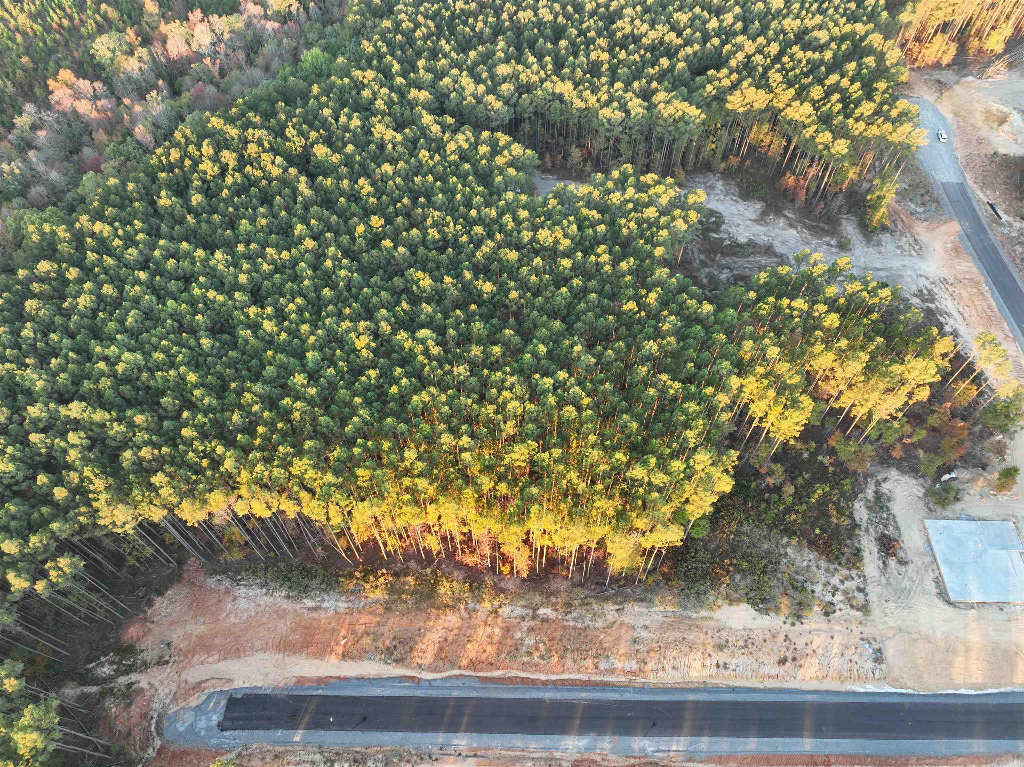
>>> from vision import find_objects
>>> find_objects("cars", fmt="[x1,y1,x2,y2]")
[936,130,948,143]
